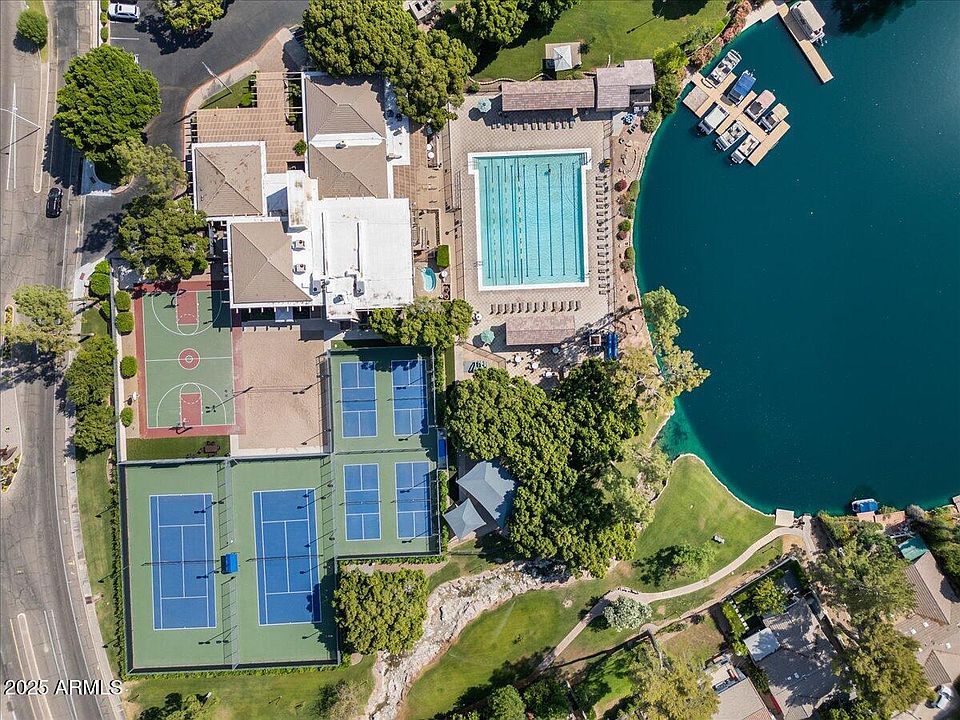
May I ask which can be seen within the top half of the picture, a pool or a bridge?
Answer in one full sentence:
What appears within the top half of the picture is a pool.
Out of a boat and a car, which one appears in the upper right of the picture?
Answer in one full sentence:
What appears in the upper right of the picture is a boat.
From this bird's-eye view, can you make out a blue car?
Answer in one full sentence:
No, there is no blue car in the image.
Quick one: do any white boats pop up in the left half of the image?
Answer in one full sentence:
No, I can find no white boat in the left half of the image.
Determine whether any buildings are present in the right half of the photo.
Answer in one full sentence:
Yes, a building can be seen in the right half of the photo.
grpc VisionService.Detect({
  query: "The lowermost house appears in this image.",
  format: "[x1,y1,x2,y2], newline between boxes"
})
[716,673,775,720]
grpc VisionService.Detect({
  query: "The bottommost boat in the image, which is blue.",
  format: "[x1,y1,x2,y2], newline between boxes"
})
[850,498,880,514]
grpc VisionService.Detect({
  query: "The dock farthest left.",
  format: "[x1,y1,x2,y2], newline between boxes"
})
[682,71,790,166]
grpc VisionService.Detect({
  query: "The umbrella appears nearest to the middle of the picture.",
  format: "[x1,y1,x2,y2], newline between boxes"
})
[480,328,495,343]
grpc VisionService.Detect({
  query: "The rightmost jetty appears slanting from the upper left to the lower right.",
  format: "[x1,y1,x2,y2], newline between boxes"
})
[778,4,835,83]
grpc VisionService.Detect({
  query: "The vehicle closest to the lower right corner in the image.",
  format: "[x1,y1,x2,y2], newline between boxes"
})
[931,690,953,713]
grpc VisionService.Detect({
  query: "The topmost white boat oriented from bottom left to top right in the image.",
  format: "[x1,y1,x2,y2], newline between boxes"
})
[704,50,743,87]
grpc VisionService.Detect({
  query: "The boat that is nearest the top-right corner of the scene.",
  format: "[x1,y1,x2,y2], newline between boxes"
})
[792,0,825,42]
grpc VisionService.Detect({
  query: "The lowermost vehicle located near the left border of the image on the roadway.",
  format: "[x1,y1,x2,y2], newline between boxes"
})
[42,186,61,217]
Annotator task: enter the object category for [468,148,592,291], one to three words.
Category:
swimming pool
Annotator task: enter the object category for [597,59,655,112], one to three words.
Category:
building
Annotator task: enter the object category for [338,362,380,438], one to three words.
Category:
sports court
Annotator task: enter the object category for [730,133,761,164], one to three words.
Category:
boat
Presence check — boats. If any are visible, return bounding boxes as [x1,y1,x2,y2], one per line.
[730,133,761,164]
[728,69,759,103]
[792,0,825,42]
[758,100,795,133]
[850,498,880,514]
[698,103,730,136]
[715,120,747,150]
[744,85,781,121]
[704,50,743,87]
